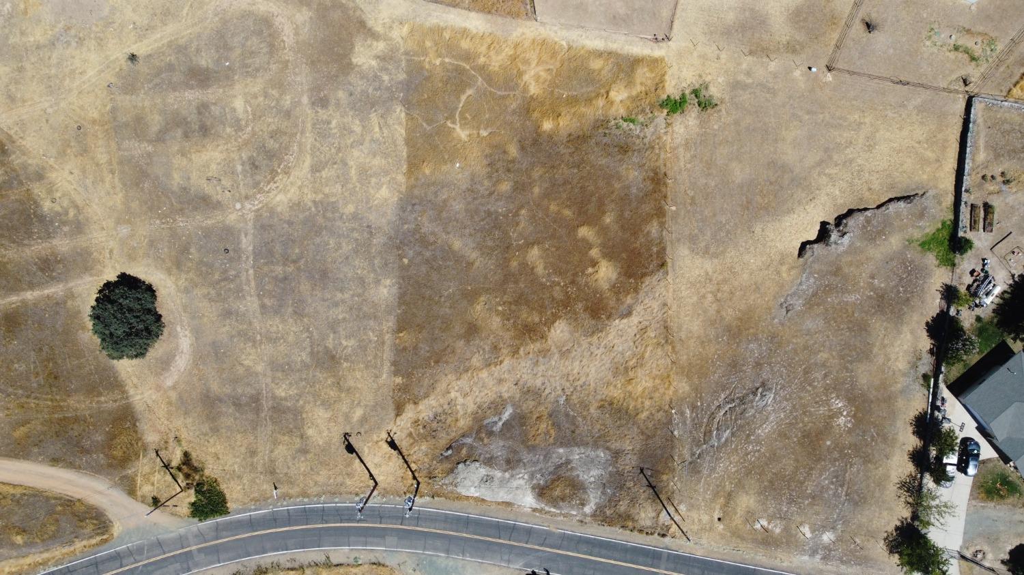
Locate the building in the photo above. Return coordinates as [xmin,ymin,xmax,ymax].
[955,348,1024,468]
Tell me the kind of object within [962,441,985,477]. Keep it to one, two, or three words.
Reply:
car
